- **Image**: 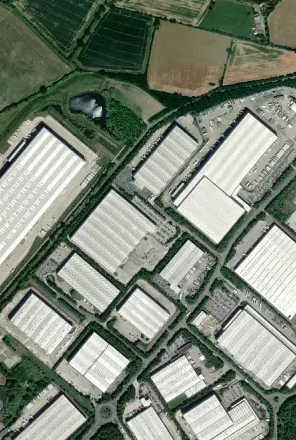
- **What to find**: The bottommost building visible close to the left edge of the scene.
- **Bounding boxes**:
[14,395,87,440]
